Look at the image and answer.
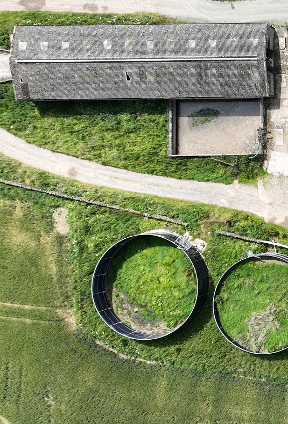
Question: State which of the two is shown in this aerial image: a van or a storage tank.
storage tank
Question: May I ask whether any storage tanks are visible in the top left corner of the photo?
No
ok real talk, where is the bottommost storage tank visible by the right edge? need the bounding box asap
[212,245,288,355]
